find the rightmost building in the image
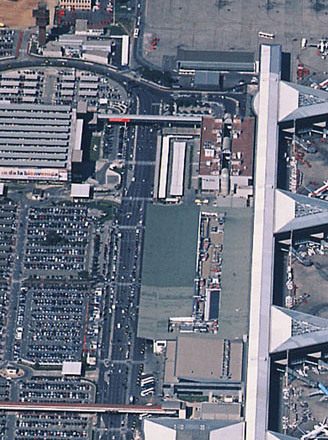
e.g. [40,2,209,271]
[246,43,281,440]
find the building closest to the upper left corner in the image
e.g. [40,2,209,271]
[33,8,50,46]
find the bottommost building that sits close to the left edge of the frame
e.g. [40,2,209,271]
[0,103,77,184]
